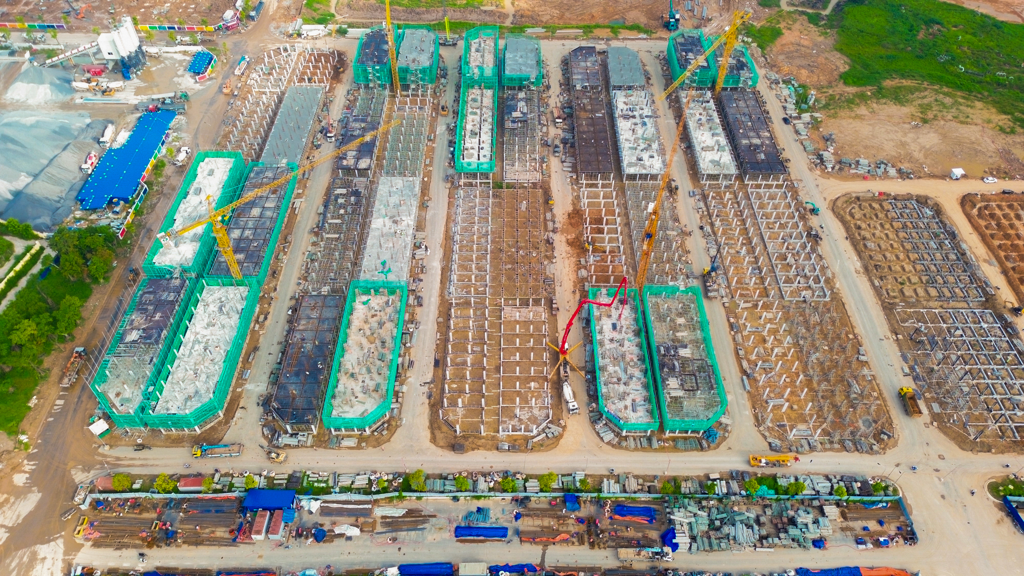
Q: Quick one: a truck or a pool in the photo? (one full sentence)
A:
I can see a truck in this picture.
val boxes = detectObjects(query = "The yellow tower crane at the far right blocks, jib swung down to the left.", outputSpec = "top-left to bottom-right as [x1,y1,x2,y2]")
[661,7,749,100]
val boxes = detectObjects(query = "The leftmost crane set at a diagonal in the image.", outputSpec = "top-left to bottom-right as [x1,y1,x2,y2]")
[149,118,401,280]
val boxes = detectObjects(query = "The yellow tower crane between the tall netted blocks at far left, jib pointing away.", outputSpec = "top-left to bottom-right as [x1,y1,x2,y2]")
[379,0,401,101]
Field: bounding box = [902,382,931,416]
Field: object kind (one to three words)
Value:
truck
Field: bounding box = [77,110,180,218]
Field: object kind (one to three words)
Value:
shed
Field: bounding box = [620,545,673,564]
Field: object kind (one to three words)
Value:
vehicle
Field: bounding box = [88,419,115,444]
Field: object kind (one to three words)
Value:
building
